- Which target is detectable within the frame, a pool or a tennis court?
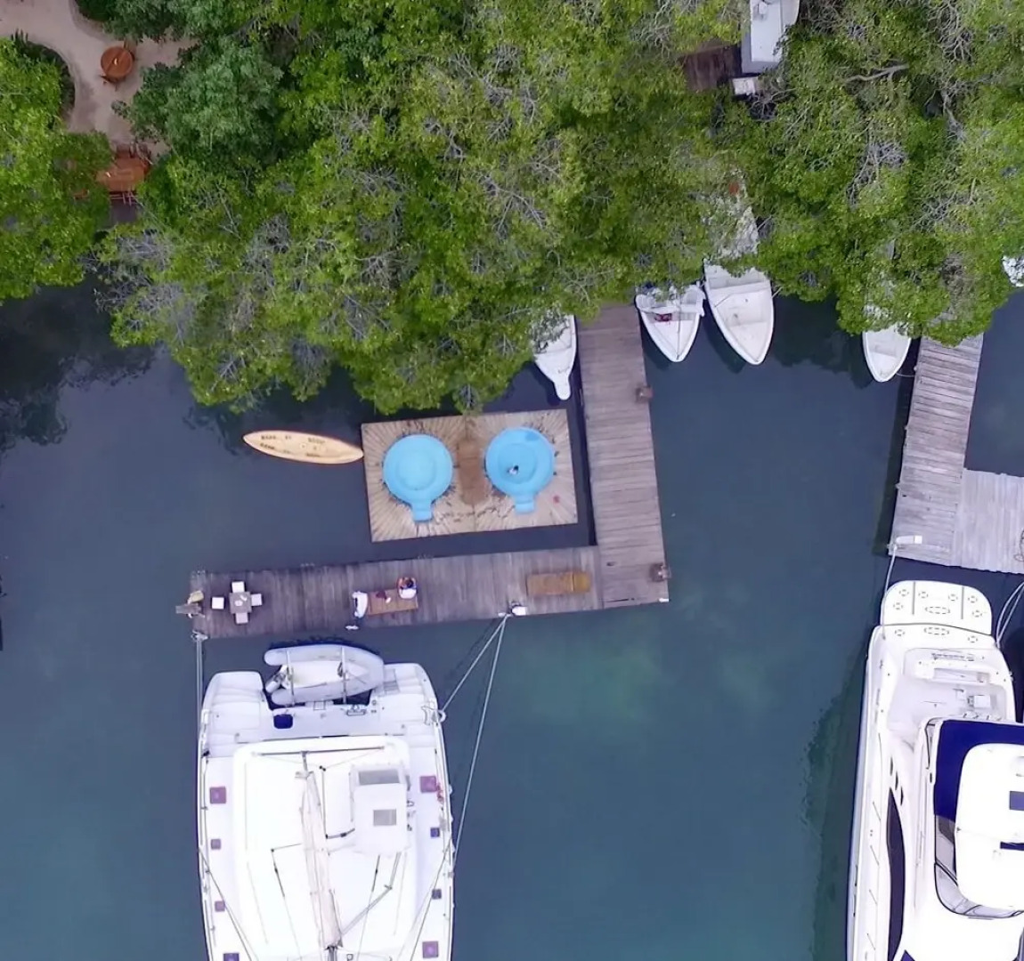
pool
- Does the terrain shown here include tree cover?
Yes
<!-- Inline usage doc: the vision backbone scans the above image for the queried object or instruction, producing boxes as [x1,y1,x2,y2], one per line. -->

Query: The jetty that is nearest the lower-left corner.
[191,546,603,638]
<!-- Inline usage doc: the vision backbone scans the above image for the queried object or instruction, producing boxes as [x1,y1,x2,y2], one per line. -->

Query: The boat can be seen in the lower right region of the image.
[849,580,1024,961]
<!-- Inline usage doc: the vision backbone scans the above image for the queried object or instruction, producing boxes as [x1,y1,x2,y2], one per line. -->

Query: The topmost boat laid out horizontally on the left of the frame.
[243,428,363,462]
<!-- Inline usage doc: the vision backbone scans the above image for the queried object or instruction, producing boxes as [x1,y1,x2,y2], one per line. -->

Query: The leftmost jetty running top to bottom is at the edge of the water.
[566,107,668,608]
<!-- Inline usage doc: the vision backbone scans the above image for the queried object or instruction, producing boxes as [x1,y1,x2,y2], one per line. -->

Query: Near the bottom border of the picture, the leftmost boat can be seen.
[198,646,455,961]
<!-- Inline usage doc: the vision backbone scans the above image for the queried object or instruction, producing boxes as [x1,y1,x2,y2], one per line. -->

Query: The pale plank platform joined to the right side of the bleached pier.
[953,469,1024,579]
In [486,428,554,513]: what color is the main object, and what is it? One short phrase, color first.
blue swimming pool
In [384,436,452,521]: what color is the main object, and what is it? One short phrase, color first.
blue swimming pool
